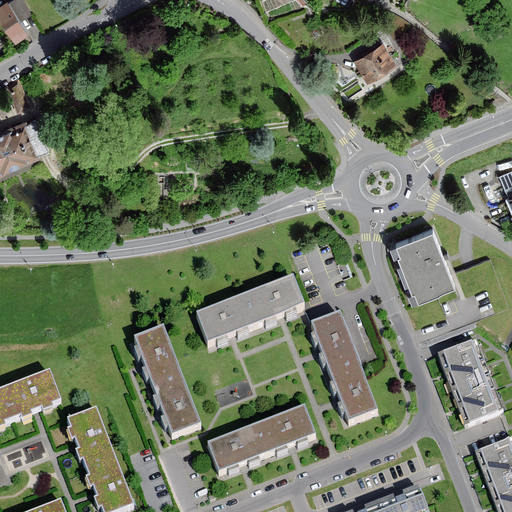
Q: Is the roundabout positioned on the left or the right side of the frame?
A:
right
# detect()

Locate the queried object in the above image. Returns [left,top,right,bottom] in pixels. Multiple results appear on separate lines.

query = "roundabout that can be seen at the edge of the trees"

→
[341,142,420,222]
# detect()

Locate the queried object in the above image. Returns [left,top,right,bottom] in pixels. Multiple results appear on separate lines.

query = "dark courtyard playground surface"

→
[214,379,253,408]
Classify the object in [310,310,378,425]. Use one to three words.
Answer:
building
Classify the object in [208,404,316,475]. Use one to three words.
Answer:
building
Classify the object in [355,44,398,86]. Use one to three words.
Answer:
house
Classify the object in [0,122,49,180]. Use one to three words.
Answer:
house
